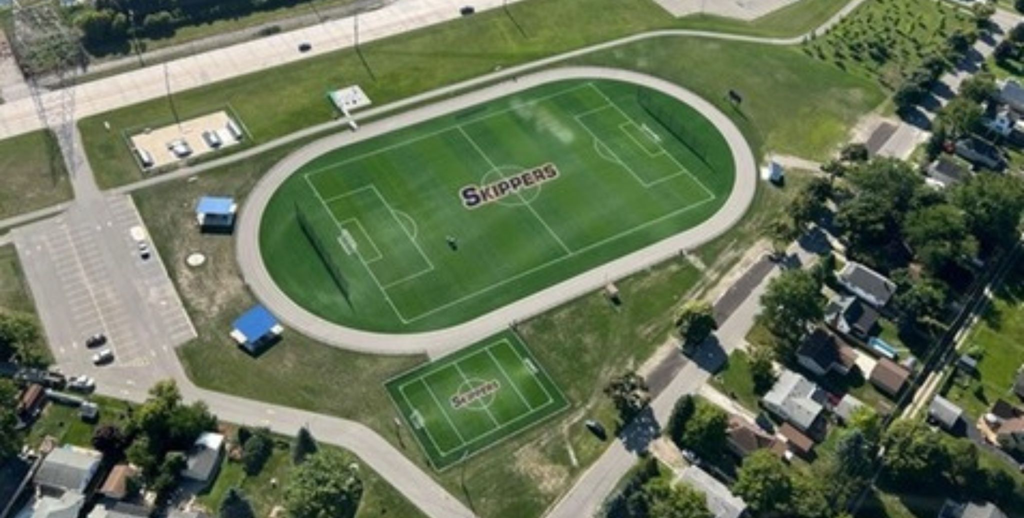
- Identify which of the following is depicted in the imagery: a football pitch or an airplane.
football pitch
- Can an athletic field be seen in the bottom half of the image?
Yes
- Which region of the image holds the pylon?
top left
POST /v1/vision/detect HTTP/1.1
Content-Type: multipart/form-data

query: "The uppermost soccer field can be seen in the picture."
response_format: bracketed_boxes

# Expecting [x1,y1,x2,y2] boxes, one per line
[306,84,713,323]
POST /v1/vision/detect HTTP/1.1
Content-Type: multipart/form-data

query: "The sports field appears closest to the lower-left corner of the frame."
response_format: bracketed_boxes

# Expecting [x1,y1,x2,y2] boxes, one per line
[401,341,553,454]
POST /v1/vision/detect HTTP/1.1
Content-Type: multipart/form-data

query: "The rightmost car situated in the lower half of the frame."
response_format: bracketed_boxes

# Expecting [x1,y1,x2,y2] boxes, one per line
[825,391,841,408]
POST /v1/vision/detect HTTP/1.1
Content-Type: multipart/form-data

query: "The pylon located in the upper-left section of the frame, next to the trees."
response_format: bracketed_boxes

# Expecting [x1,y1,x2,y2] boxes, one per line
[10,0,69,77]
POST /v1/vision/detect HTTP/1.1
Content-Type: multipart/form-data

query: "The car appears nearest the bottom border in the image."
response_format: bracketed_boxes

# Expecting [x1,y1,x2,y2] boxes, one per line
[681,448,703,465]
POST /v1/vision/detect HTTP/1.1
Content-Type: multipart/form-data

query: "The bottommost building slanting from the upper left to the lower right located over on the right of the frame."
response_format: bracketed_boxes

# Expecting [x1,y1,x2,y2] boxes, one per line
[682,465,746,518]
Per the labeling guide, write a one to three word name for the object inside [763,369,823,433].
house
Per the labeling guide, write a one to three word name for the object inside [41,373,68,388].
vehicle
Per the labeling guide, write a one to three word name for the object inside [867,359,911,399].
building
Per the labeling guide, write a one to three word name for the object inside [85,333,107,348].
car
